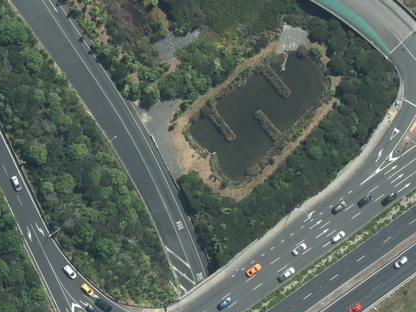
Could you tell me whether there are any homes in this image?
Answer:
No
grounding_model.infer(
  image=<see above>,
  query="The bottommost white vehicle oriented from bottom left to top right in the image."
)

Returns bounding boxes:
[278,268,296,282]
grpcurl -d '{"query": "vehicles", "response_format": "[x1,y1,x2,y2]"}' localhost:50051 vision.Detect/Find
[278,268,296,282]
[382,193,398,206]
[84,304,99,312]
[95,298,112,312]
[332,202,347,215]
[330,230,346,244]
[394,256,409,268]
[292,242,307,256]
[357,194,373,208]
[62,264,77,280]
[348,304,363,312]
[246,264,262,277]
[80,282,95,296]
[10,175,22,191]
